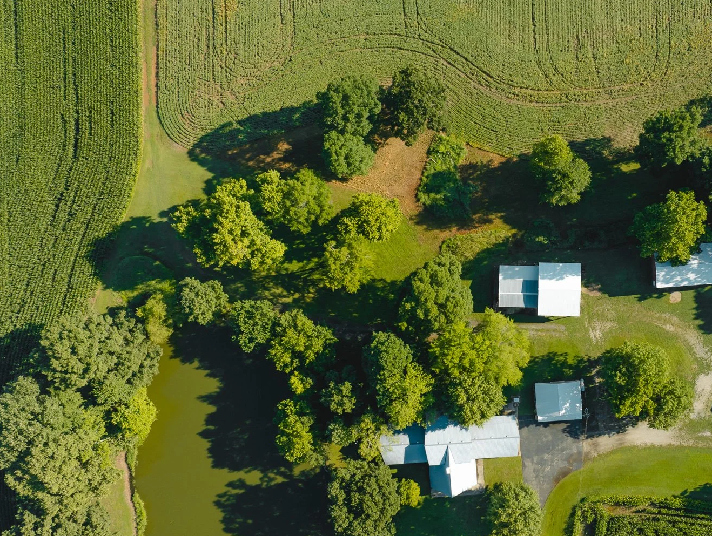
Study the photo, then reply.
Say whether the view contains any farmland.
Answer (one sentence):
Yes, farmland shows up in the scene.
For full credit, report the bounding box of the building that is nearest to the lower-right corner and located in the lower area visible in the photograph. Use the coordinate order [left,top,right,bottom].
[535,380,582,423]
